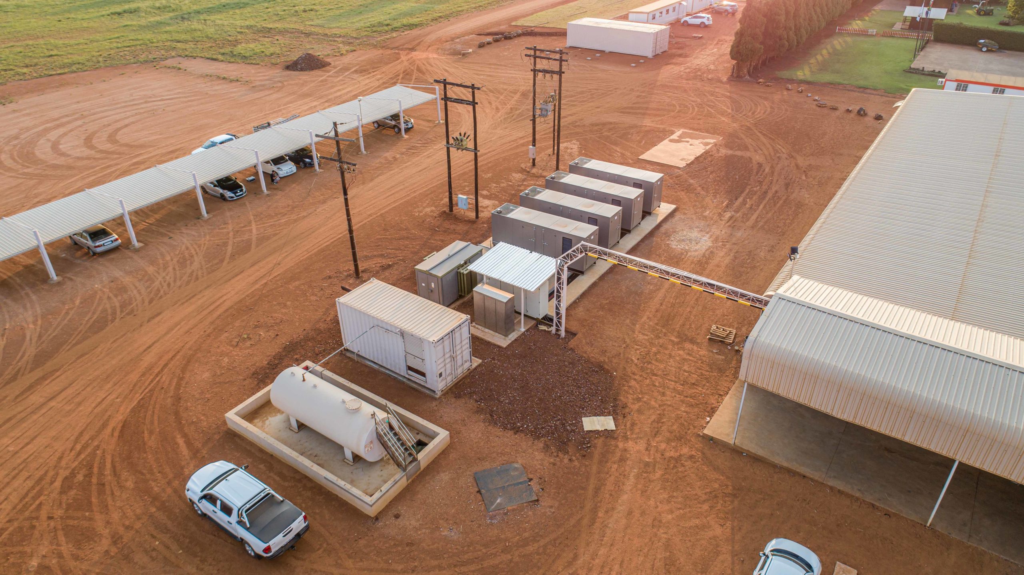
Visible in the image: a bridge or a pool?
bridge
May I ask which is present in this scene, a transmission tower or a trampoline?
transmission tower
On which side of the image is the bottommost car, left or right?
right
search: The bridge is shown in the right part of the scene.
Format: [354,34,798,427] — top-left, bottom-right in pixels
[552,239,767,337]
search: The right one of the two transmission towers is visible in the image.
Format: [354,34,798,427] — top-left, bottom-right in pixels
[519,46,569,170]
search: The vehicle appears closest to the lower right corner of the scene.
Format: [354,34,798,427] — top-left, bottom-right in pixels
[751,538,822,575]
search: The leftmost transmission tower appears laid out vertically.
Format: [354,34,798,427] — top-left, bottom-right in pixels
[424,77,489,219]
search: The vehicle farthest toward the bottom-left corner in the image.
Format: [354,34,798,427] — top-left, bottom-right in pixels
[184,464,315,566]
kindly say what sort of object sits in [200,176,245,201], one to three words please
car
